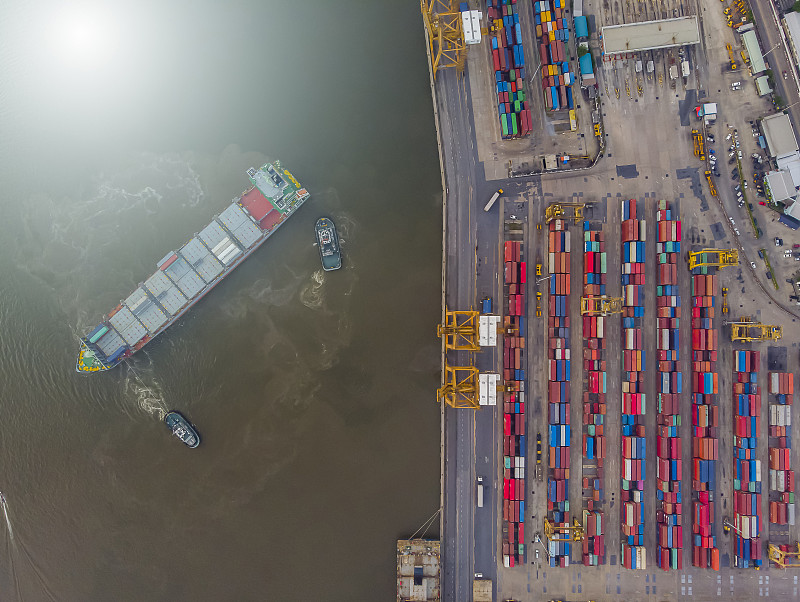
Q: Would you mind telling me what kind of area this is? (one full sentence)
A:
The area seen from above is a port.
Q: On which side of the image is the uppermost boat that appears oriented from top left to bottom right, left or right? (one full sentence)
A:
You can find the uppermost boat that appears oriented from top left to bottom right on the left side of the picture.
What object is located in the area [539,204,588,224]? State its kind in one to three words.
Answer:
container crane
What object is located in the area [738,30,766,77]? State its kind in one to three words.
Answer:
shed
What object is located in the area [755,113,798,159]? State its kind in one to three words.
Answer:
building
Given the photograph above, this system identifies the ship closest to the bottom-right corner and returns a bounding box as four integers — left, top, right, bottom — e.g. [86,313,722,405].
[397,537,439,602]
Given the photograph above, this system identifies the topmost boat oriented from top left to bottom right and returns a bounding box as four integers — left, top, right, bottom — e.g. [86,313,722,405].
[165,408,202,450]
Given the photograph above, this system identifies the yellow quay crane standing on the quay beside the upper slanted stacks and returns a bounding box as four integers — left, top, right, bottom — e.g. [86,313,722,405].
[416,1,502,81]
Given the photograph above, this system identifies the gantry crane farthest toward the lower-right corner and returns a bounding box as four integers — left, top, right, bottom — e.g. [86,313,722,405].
[760,539,800,568]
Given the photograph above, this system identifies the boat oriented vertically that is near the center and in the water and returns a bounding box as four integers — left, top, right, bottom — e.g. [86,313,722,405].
[314,216,342,272]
